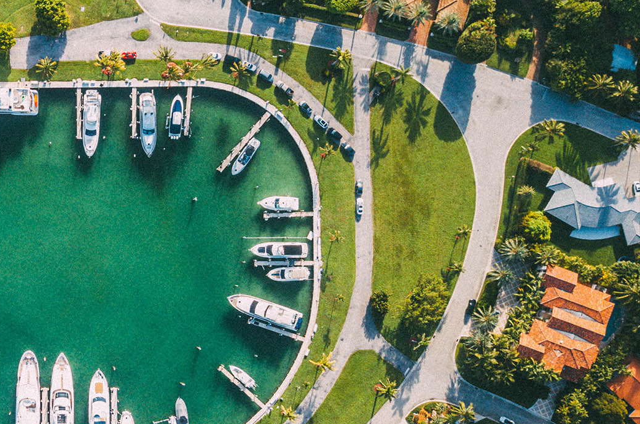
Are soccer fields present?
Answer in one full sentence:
No, I find no soccer field anywhere in the image.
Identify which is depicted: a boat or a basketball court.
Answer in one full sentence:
Looking from above, you can make out a boat.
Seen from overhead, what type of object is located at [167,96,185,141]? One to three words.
boat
